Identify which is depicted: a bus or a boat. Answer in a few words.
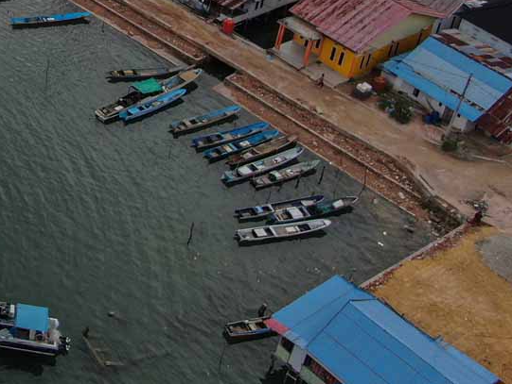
boat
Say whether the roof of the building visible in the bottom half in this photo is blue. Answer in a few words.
Yes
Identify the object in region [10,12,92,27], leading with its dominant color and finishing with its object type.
blue boat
